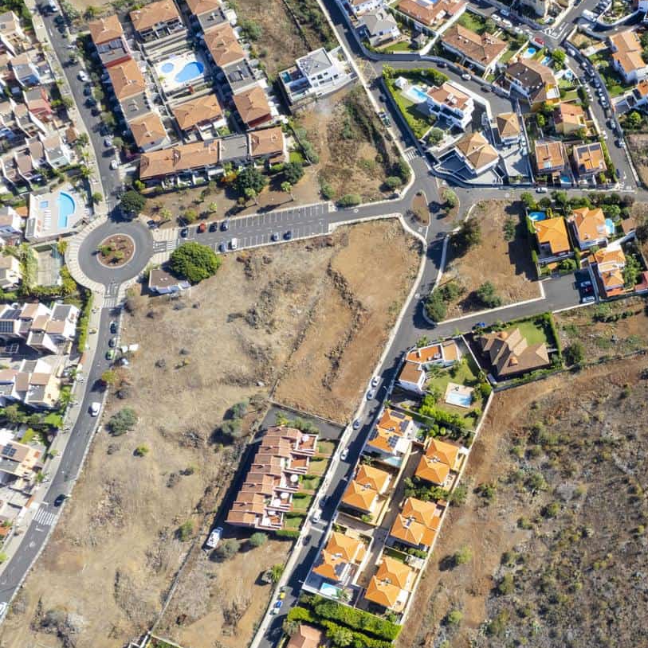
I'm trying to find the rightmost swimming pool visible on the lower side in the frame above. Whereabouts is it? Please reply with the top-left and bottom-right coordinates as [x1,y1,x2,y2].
[444,383,476,408]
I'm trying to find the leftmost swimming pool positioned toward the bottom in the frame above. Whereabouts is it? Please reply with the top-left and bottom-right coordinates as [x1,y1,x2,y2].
[317,580,348,607]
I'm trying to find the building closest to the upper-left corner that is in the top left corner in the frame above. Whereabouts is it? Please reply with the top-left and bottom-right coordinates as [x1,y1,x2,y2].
[0,10,37,50]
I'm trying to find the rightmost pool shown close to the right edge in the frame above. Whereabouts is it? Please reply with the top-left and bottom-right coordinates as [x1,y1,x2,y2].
[605,216,619,237]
